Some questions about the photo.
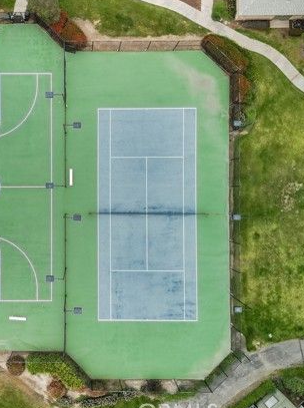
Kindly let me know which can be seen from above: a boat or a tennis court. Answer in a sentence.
It is a tennis court that can be seen here.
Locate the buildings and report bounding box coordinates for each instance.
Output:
[254,386,304,408]
[234,0,304,27]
